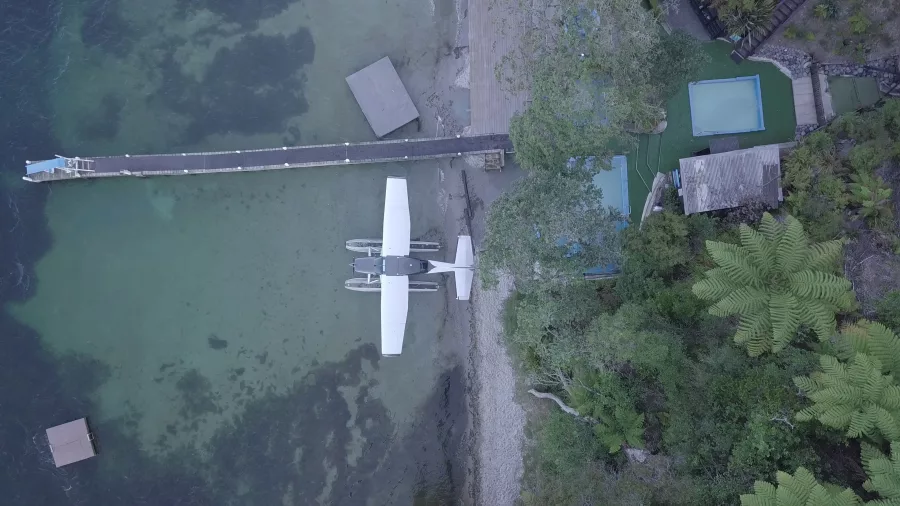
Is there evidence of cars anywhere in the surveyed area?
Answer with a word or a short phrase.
No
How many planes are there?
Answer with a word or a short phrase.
1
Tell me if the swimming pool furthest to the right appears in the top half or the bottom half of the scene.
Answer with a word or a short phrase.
top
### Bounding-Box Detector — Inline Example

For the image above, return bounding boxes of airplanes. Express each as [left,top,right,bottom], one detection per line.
[345,177,475,356]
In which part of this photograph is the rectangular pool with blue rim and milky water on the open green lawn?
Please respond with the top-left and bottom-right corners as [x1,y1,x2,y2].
[687,76,766,138]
